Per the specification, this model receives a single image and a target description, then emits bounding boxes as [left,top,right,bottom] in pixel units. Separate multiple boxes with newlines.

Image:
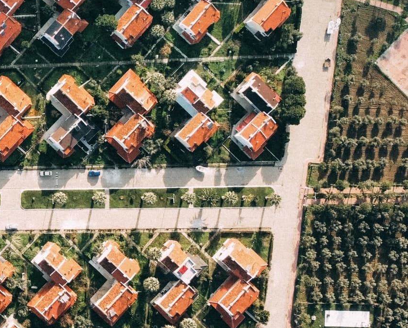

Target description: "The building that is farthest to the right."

[321,310,369,327]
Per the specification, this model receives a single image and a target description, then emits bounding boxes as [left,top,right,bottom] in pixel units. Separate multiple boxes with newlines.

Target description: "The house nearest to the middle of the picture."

[169,114,216,152]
